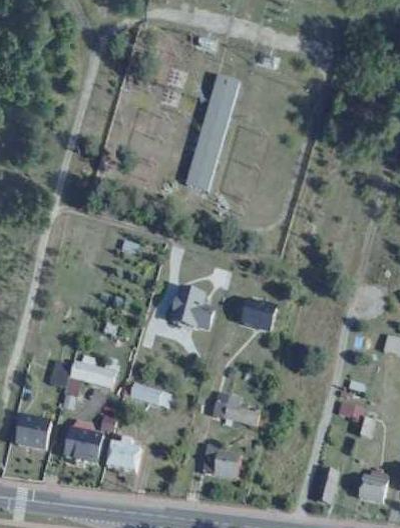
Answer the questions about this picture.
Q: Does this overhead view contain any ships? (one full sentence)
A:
No, the picture doesn't show any ship.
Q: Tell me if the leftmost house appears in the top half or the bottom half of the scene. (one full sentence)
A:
Seen from above, the leftmost house lies in the bottom half of the view.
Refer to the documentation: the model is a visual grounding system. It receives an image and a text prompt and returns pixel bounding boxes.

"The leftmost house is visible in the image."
[10,413,54,450]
